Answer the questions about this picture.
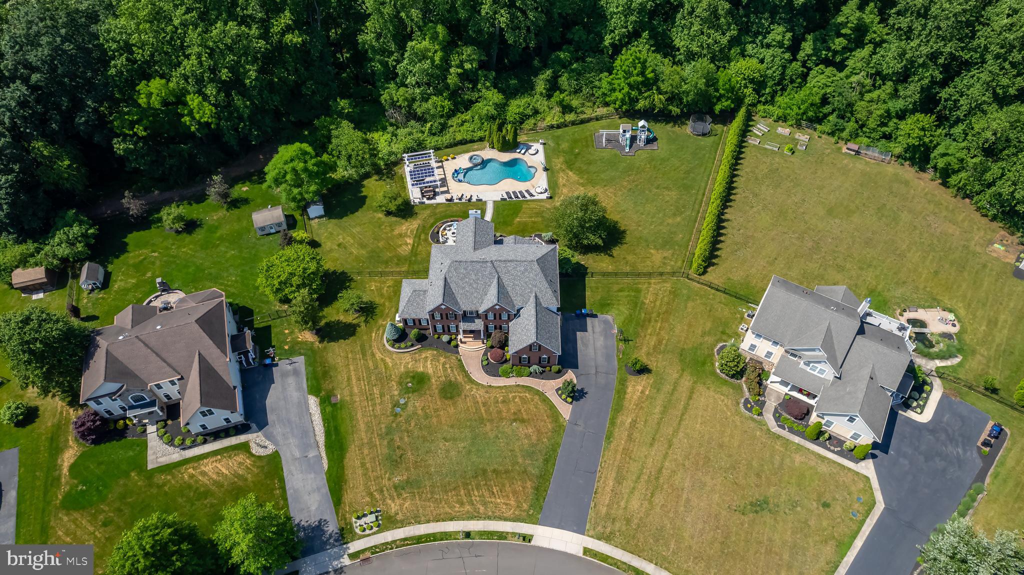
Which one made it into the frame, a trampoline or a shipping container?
trampoline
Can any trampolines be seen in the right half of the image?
Yes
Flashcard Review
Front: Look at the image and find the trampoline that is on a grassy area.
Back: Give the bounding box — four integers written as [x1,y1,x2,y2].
[690,113,715,139]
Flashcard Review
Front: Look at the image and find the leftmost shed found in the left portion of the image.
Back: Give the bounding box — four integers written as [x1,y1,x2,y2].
[11,262,61,300]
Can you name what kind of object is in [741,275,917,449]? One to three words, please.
house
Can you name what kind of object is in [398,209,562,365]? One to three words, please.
house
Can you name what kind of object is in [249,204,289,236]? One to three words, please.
shed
